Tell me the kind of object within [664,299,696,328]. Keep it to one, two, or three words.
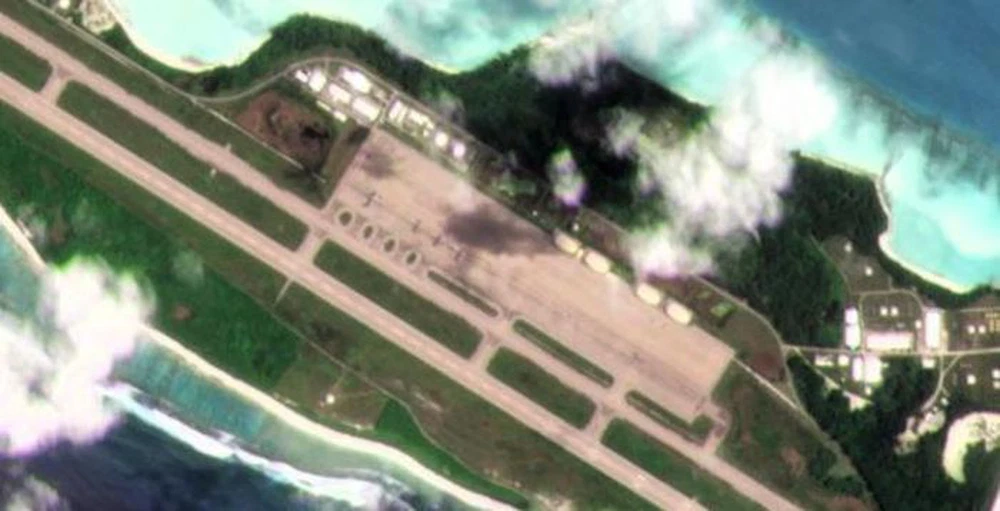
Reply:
hangar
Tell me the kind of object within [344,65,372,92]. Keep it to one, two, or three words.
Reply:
building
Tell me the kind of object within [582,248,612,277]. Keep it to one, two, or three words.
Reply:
hangar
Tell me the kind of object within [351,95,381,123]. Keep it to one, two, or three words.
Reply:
building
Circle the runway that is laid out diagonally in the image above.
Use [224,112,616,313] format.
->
[0,72,707,511]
